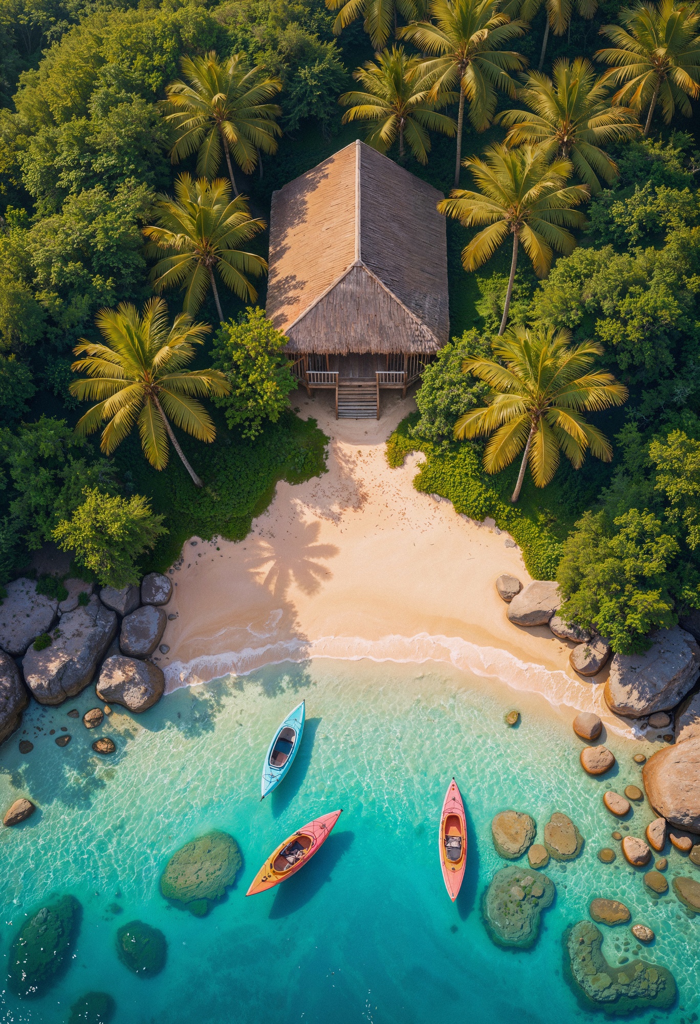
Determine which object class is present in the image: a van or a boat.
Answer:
boat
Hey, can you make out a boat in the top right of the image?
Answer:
No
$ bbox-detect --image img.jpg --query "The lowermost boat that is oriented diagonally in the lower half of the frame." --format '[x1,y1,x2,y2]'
[245,809,343,897]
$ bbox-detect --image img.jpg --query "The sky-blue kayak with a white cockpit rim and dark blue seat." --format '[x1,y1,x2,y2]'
[260,699,307,801]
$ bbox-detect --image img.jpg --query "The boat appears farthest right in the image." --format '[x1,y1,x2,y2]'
[438,777,468,904]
